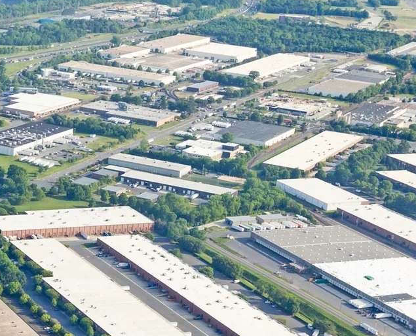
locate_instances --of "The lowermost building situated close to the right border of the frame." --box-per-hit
[313,257,416,332]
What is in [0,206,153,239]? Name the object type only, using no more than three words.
building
